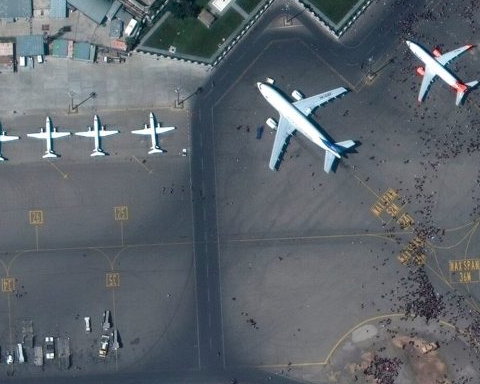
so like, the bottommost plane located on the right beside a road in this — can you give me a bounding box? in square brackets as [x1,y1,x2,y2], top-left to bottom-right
[258,83,351,170]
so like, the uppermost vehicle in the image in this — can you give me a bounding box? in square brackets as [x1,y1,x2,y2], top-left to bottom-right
[124,19,137,34]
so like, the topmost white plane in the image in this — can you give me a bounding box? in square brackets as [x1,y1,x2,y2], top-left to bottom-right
[406,42,477,103]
